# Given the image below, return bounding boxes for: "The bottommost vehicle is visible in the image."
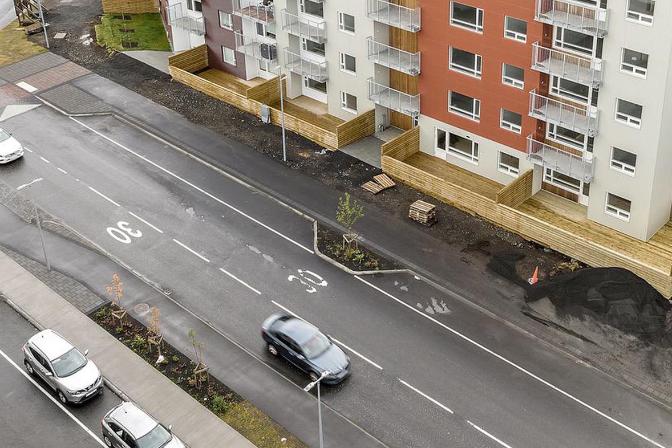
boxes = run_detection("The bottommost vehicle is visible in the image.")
[95,396,189,448]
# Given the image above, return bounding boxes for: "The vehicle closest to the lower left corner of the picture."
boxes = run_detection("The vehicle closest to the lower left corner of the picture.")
[19,331,102,405]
